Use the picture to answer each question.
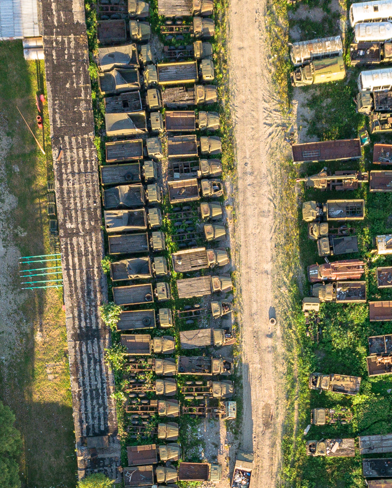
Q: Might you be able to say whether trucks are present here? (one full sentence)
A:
Yes, I can see a truck in this picture.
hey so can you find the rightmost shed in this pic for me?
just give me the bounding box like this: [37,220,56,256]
[46,0,124,485]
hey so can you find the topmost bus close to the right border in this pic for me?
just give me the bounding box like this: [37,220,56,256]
[348,1,392,27]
